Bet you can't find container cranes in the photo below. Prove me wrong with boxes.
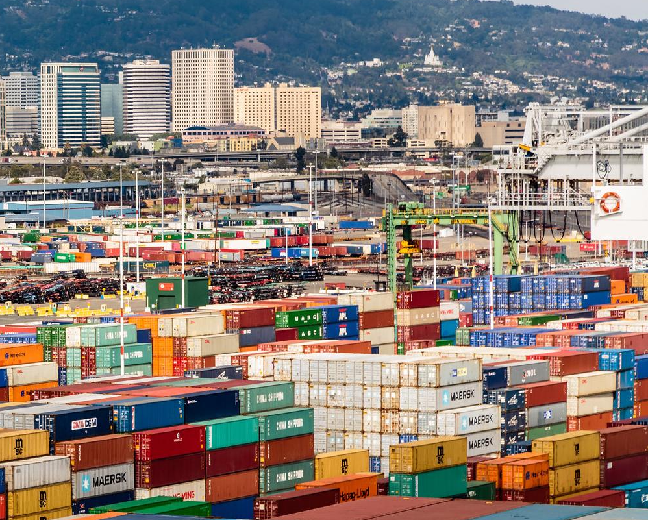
[378,193,523,335]
[481,101,648,242]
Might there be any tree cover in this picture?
Yes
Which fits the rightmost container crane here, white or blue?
white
